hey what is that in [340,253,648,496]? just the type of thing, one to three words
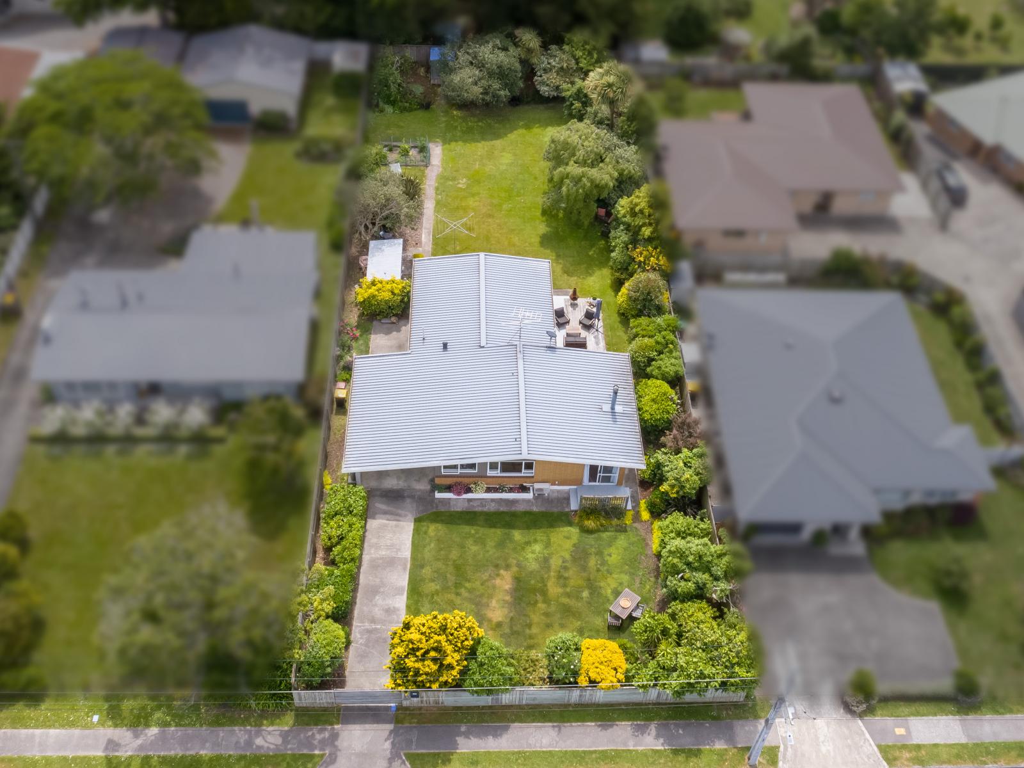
house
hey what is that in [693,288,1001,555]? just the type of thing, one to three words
house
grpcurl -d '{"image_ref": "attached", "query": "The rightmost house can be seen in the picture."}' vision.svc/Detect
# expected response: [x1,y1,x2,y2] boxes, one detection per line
[927,64,1024,191]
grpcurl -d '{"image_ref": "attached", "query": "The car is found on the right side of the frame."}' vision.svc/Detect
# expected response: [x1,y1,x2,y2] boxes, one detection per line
[924,159,974,201]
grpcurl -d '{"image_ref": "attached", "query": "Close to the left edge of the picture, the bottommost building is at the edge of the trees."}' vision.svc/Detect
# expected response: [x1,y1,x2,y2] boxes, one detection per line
[26,215,321,420]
